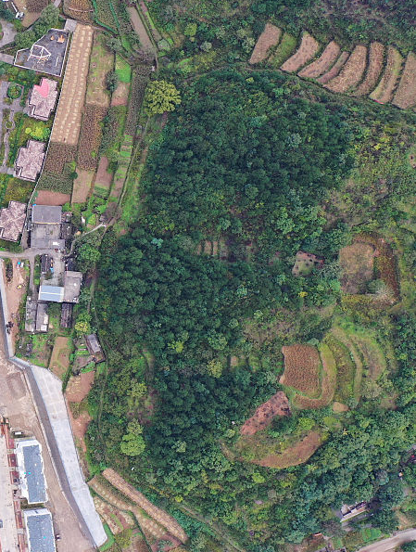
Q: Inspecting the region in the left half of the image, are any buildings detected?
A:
Yes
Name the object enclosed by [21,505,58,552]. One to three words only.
building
